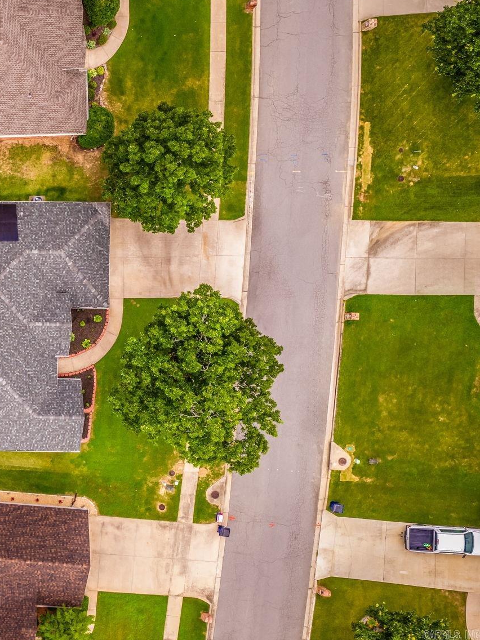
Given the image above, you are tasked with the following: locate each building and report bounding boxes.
[0,497,90,640]
[0,201,110,452]
[0,0,91,142]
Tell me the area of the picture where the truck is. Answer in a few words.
bottom right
